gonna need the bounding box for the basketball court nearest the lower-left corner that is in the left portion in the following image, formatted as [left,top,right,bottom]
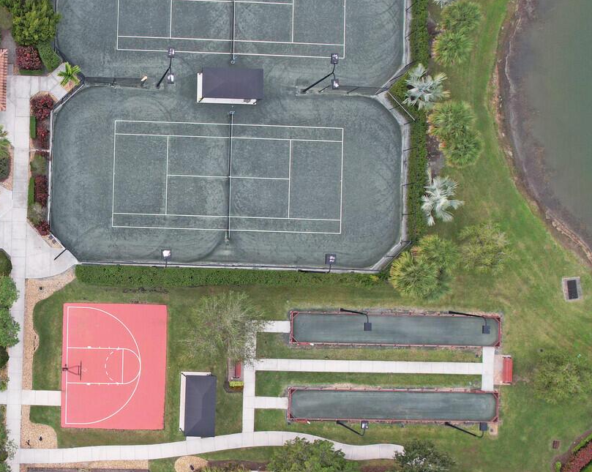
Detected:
[61,303,167,430]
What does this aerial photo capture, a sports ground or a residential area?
sports ground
